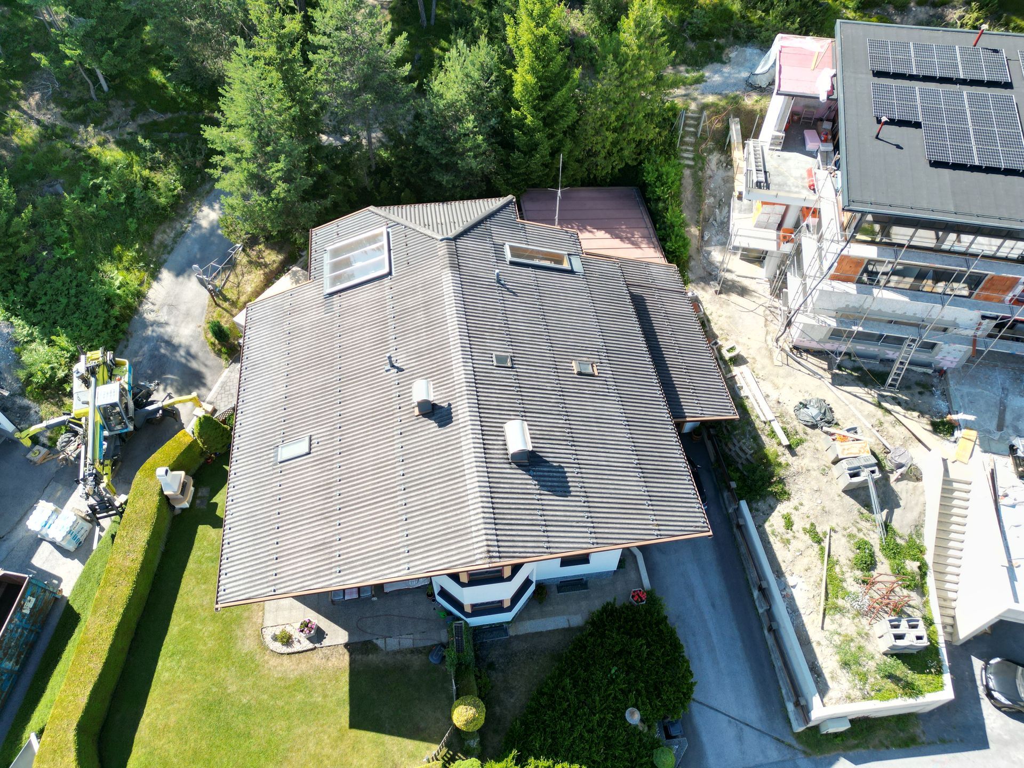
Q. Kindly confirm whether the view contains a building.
Yes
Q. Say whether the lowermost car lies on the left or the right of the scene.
right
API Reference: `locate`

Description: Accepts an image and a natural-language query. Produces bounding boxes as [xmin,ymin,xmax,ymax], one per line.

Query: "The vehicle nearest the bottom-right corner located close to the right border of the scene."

[980,659,1024,716]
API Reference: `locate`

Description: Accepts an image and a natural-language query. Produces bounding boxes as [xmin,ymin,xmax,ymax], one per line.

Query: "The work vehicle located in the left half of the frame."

[16,350,209,549]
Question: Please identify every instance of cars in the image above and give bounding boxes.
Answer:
[677,425,713,510]
[980,659,1024,716]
